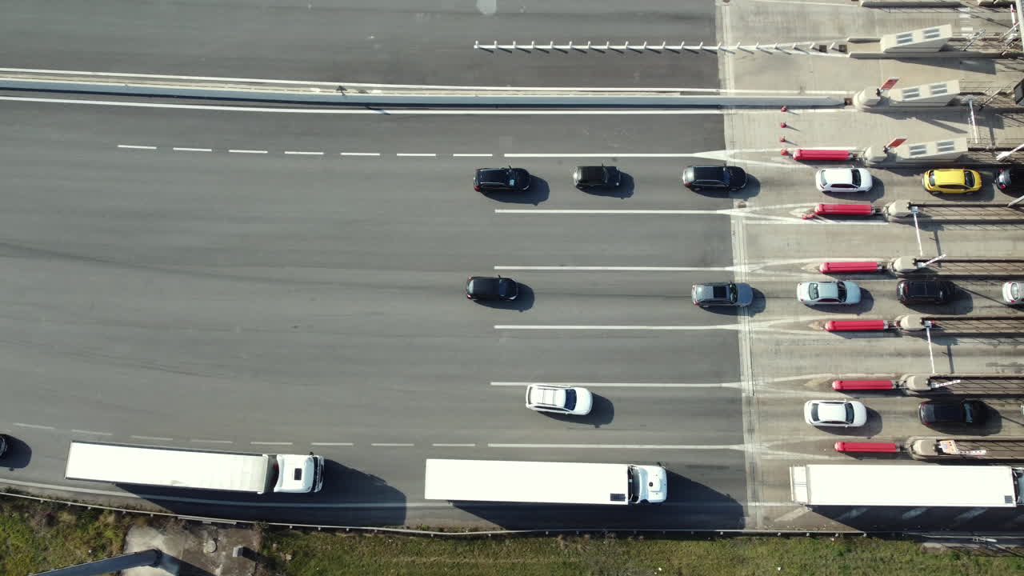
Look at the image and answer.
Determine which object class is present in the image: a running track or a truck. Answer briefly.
truck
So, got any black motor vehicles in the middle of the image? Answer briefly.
Yes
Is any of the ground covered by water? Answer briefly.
No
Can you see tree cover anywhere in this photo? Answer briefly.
No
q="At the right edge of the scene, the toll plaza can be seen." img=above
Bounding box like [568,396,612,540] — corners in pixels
[717,0,1024,541]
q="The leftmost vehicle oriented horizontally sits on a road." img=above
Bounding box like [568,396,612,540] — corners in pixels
[64,441,327,498]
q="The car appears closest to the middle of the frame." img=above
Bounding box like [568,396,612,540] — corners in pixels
[466,274,519,303]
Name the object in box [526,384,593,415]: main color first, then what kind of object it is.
white car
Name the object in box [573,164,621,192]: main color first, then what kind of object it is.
black car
